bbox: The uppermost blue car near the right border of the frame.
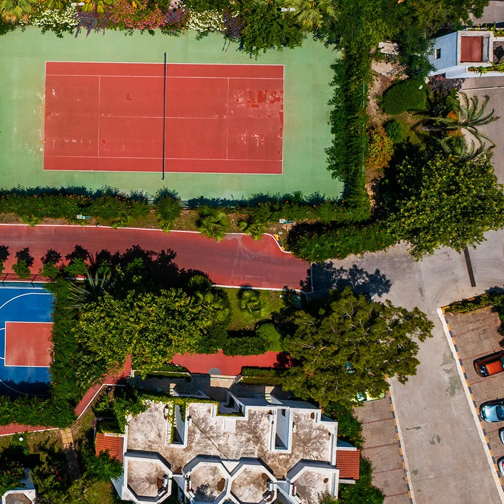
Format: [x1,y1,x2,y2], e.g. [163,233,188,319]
[482,403,504,425]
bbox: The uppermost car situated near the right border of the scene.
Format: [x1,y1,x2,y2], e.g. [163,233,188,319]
[475,353,504,379]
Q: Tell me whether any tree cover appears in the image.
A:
Yes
